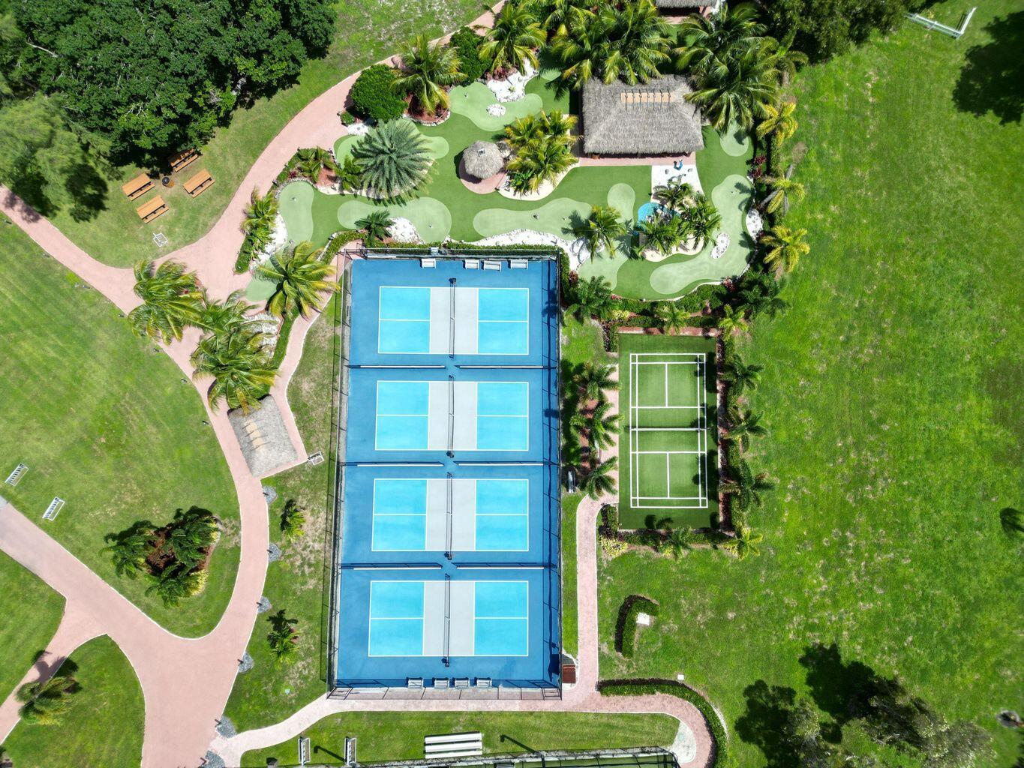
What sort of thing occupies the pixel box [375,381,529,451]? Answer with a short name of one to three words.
sports court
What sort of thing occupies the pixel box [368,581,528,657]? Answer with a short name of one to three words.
sports court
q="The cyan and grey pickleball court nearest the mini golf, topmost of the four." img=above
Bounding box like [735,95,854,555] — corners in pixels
[378,286,529,355]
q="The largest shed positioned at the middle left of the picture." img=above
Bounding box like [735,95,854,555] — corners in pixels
[228,395,299,479]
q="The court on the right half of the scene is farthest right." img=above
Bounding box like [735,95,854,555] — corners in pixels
[619,333,722,529]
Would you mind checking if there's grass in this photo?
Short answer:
Yes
